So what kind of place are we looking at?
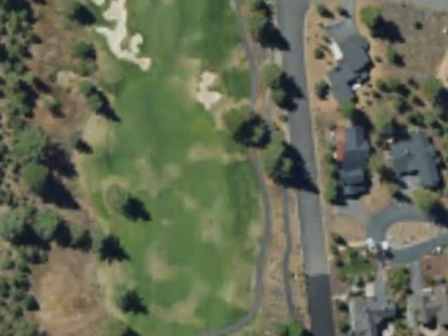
golf course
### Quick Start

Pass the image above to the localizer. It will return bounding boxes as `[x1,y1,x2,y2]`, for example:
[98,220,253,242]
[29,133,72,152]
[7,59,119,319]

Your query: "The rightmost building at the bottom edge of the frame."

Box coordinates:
[407,285,448,336]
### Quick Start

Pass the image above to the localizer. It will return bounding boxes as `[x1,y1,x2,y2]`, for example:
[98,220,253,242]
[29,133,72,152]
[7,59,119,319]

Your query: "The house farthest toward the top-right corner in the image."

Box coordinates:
[334,25,374,104]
